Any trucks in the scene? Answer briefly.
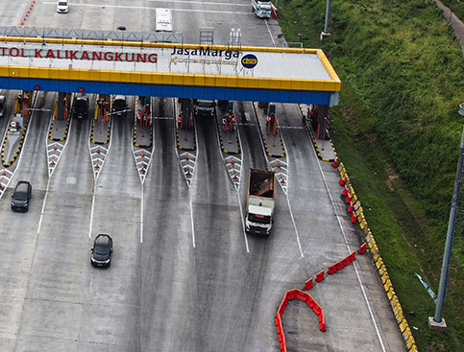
Yes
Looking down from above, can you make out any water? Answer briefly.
No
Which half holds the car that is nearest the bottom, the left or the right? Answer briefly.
left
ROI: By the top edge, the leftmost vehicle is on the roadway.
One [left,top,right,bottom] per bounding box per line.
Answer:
[56,0,70,12]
